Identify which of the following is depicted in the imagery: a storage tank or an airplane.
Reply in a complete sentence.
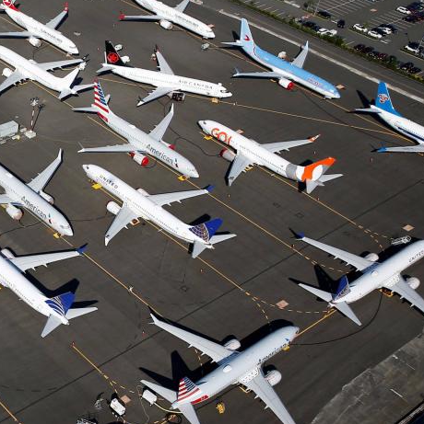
I can see an airplane in this picture.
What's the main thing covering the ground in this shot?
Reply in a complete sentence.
Most of the picture is covered by paved ground.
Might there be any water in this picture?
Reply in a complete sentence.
No, there is no water in the image.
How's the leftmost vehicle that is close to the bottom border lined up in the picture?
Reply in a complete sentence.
In this picture, the leftmost vehicle that is close to the bottom border is oriented at an angle.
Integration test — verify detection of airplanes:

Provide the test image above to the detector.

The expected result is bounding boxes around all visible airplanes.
[221,19,341,99]
[121,0,215,43]
[0,244,97,337]
[83,167,236,259]
[0,0,80,58]
[199,122,343,194]
[0,147,71,235]
[96,43,231,110]
[0,47,95,99]
[72,82,199,177]
[140,312,300,424]
[298,229,424,327]
[354,84,424,158]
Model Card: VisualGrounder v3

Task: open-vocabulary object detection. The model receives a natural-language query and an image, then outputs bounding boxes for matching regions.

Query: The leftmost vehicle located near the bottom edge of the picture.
[108,395,131,416]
